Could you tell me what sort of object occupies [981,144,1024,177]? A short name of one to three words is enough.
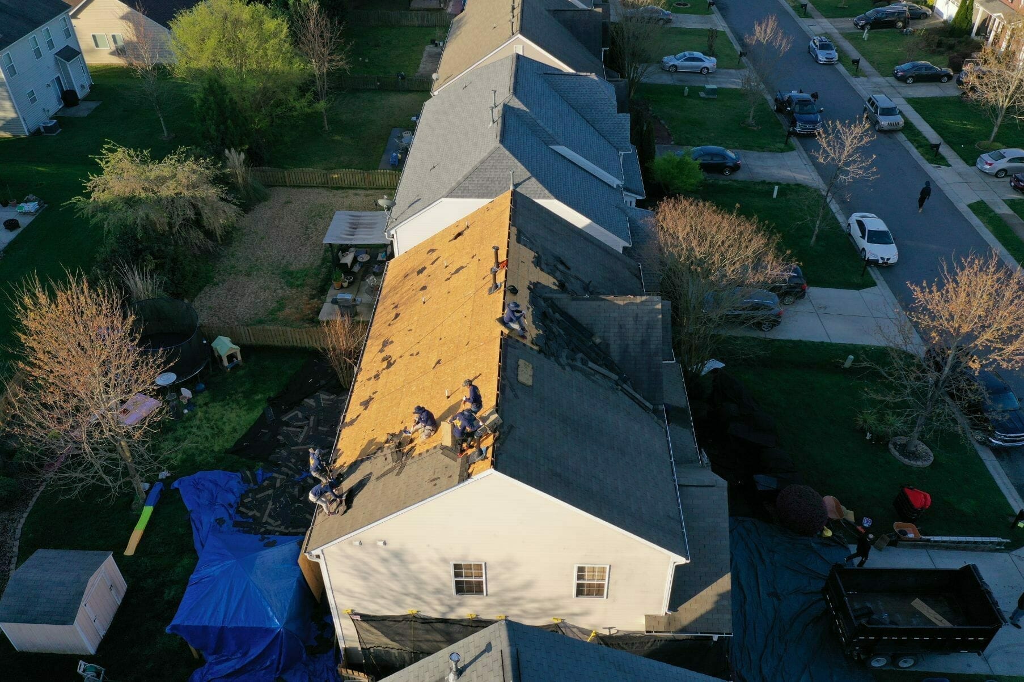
car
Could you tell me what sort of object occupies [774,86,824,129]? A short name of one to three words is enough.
truck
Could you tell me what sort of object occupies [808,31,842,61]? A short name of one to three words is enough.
car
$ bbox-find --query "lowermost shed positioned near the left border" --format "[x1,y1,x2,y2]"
[0,553,129,657]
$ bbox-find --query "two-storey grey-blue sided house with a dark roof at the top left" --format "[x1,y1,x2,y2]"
[0,0,100,137]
